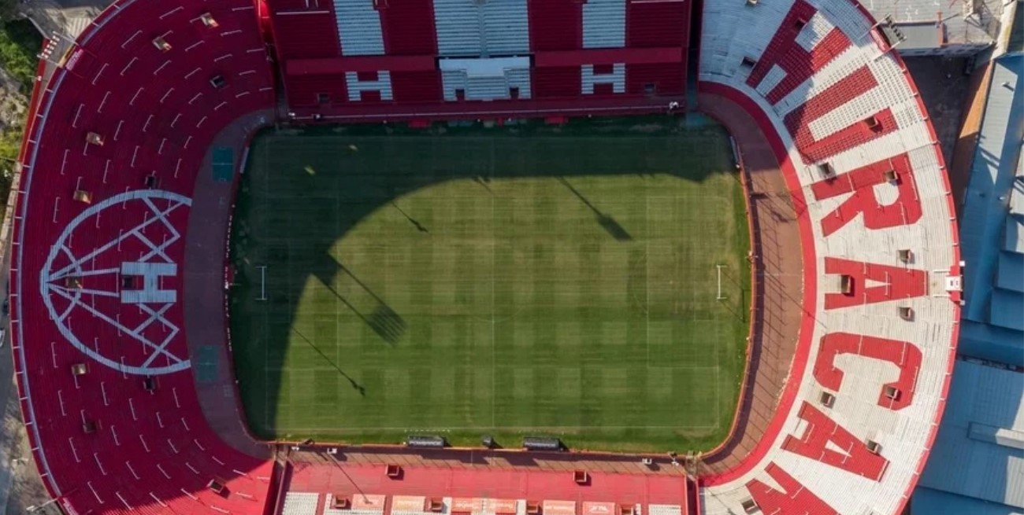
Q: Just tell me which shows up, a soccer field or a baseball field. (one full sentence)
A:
Looking from above, you can make out a soccer field.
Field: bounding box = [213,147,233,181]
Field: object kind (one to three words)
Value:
sports court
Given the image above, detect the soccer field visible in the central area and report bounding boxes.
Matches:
[226,114,751,457]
